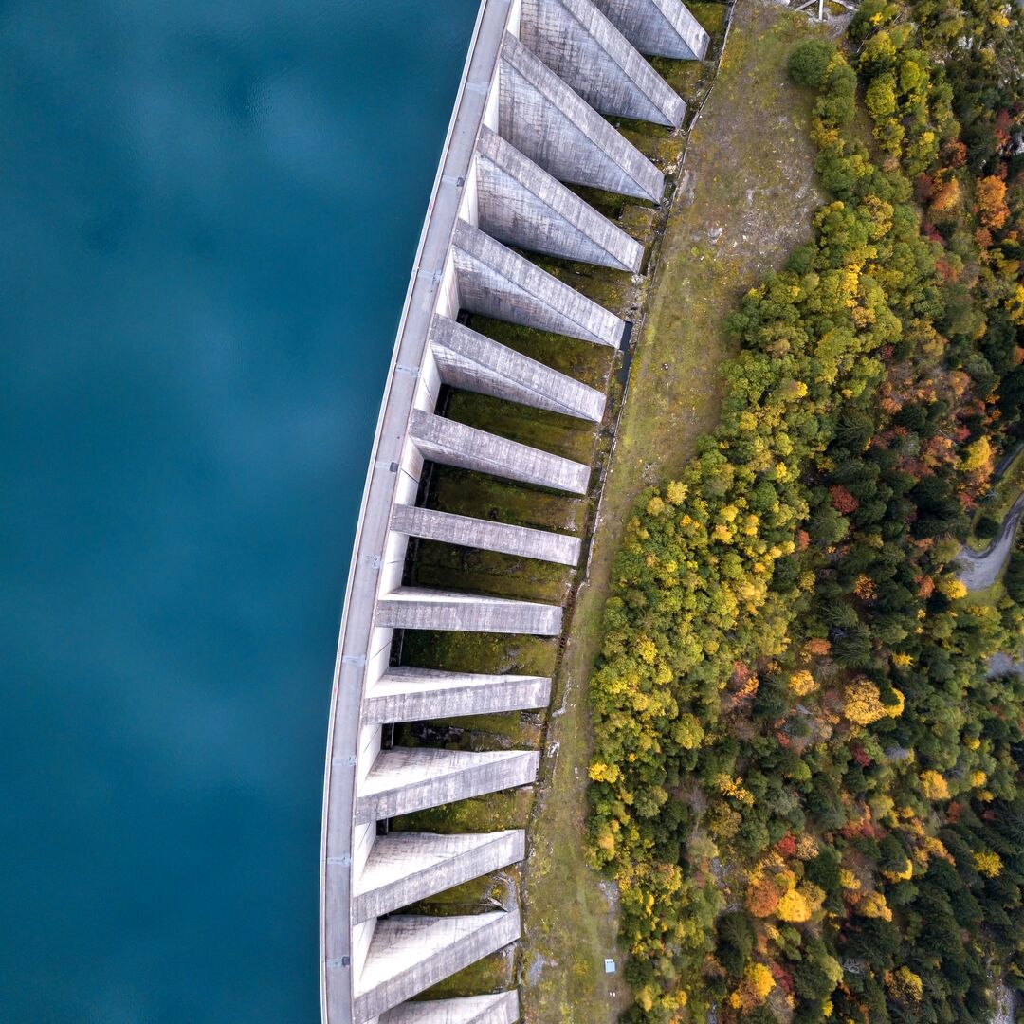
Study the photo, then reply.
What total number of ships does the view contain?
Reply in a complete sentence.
There are no ships in the image.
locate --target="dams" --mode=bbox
[320,0,712,1024]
